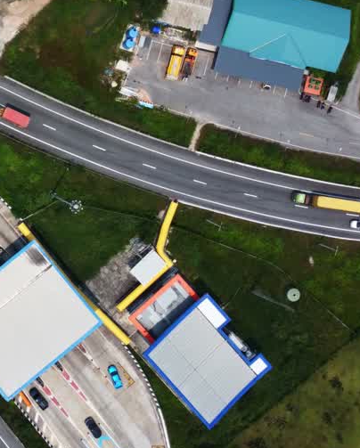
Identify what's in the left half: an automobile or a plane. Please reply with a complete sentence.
What appears in the left half is an automobile.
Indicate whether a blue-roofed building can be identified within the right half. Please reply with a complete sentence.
Yes, a blue-roofed building shows up within the right half.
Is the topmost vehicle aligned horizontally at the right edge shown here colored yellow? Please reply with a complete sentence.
Yes, the topmost vehicle aligned horizontally at the right edge is indeed yellow.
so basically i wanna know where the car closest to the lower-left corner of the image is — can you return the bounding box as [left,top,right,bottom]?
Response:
[30,388,48,409]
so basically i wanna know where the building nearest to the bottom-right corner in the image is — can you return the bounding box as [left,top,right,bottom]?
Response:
[138,291,272,428]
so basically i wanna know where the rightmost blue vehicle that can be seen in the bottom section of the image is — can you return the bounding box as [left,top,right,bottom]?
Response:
[108,366,123,388]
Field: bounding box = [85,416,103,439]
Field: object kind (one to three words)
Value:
car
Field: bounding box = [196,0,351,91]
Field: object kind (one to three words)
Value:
building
